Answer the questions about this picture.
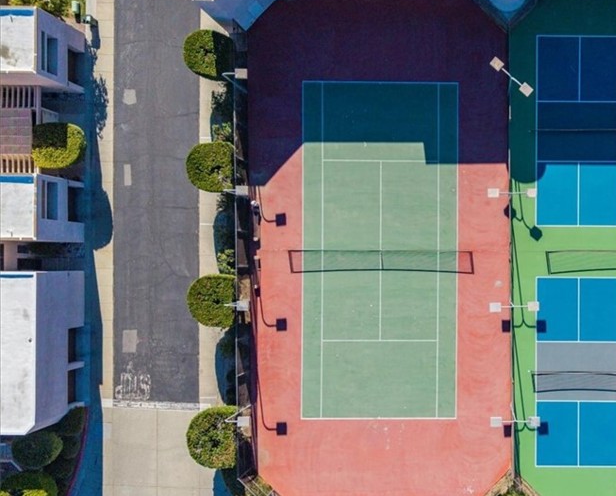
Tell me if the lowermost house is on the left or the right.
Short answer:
left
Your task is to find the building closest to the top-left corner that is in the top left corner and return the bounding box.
[0,5,84,94]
